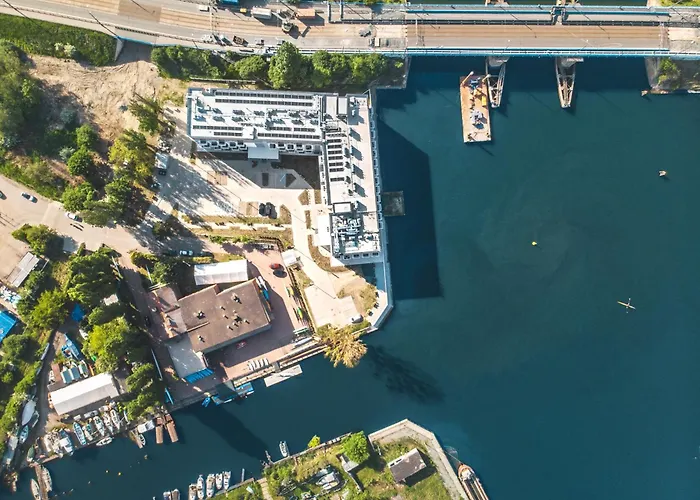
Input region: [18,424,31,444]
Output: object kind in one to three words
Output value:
boat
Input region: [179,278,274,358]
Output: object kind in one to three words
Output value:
building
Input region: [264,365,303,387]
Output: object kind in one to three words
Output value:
pier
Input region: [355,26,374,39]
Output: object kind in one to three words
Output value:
vehicle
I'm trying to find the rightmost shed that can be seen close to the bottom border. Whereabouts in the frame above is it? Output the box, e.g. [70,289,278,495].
[388,447,427,483]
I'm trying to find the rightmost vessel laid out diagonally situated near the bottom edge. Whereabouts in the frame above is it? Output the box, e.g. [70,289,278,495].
[453,449,492,500]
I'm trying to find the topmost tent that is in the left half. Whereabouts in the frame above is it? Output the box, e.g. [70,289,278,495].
[193,259,250,286]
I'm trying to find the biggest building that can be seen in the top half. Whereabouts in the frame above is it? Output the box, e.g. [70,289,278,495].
[188,88,386,263]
